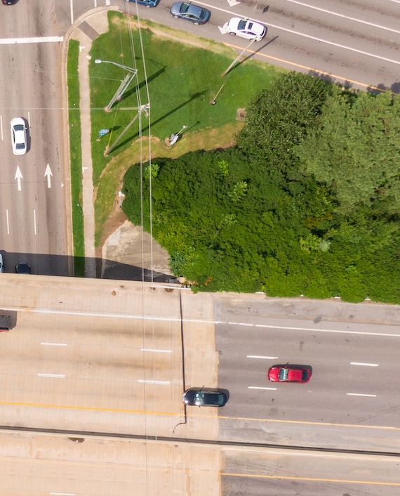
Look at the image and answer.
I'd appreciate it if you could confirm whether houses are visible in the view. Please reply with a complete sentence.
No, I find no house anywhere in the image.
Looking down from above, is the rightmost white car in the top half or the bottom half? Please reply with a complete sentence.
You can find the rightmost white car in the top half.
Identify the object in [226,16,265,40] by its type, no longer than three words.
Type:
car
